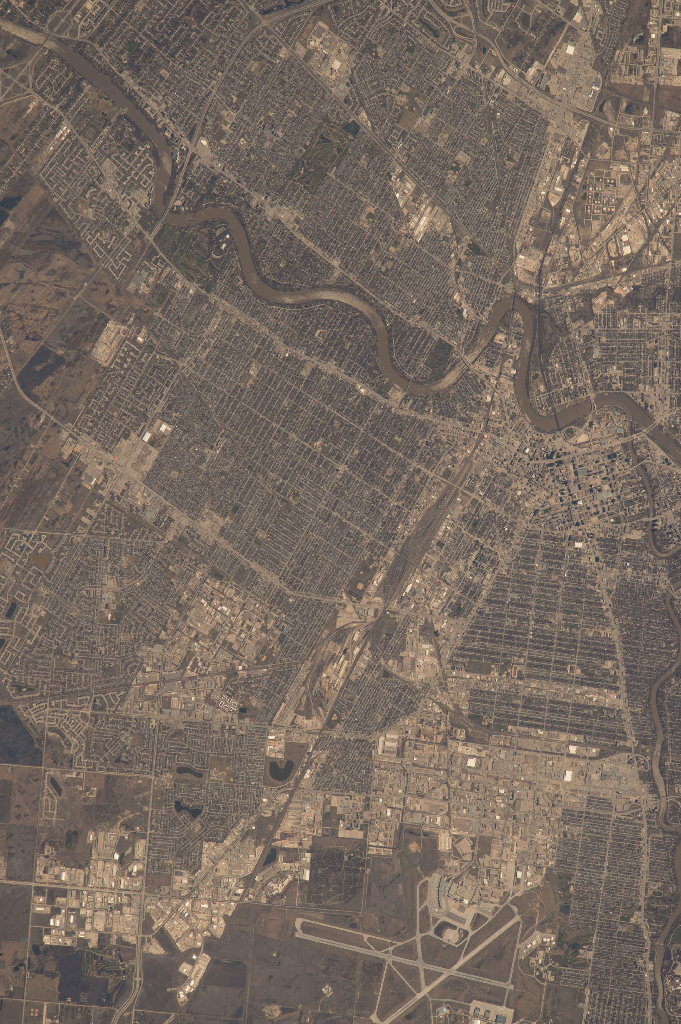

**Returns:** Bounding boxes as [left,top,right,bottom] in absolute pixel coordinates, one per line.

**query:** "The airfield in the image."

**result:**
[271,860,558,1024]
